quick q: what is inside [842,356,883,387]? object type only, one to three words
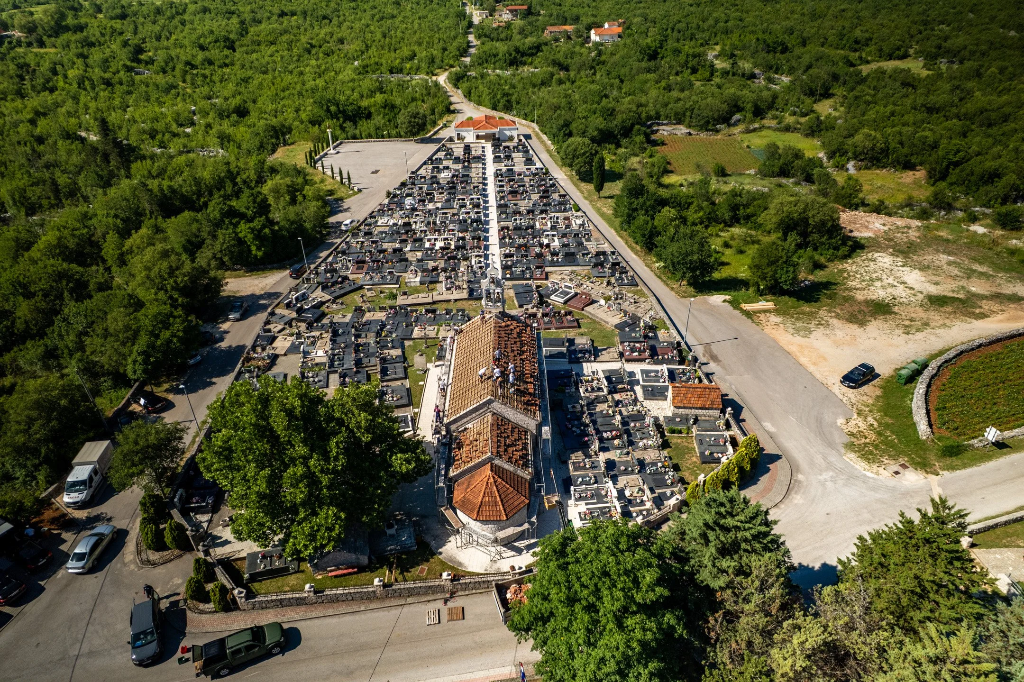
car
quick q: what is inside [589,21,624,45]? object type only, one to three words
house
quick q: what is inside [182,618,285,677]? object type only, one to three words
truck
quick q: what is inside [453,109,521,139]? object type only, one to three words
building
